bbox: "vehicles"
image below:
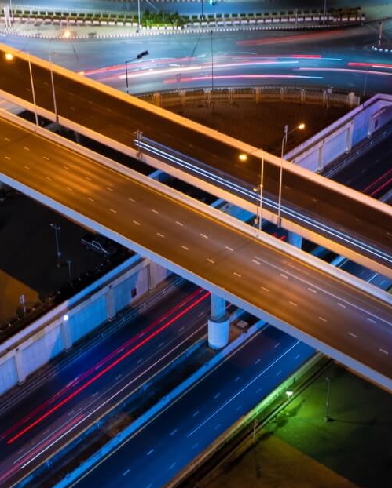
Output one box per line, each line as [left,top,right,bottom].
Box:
[77,227,116,255]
